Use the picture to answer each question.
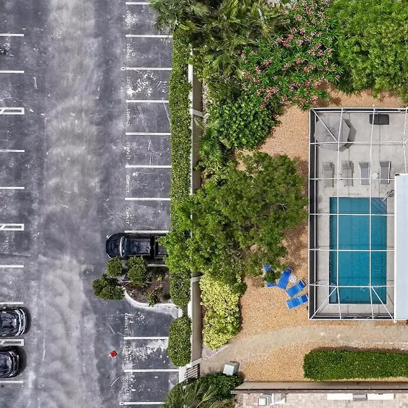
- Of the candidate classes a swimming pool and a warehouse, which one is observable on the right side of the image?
swimming pool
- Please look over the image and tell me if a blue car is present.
No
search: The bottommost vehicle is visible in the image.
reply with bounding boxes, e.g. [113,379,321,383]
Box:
[0,349,23,377]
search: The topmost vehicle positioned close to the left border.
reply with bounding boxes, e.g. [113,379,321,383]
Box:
[0,307,29,339]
